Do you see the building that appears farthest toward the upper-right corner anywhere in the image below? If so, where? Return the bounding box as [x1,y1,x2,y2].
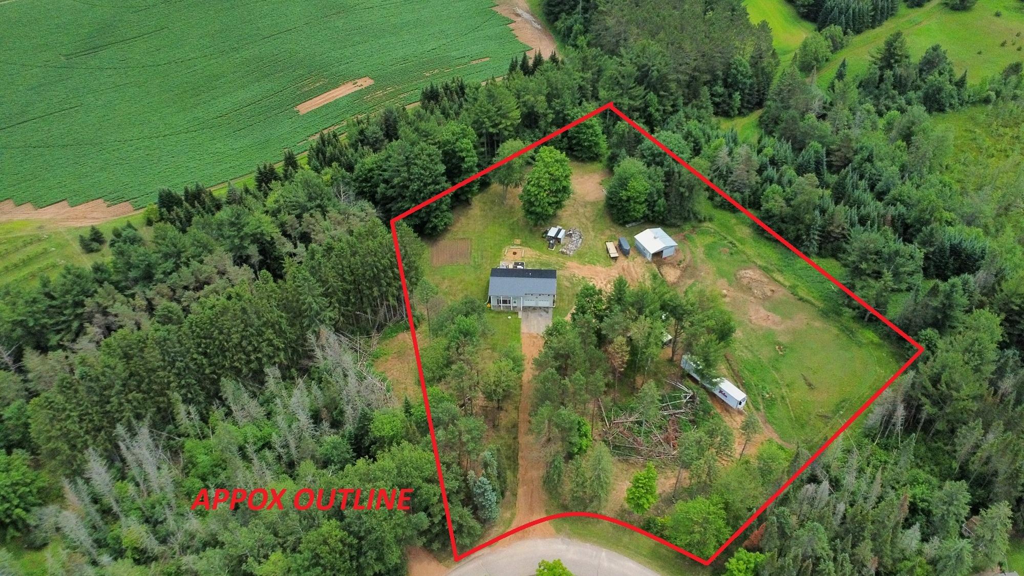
[632,228,679,262]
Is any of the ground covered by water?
No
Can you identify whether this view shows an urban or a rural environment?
rural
